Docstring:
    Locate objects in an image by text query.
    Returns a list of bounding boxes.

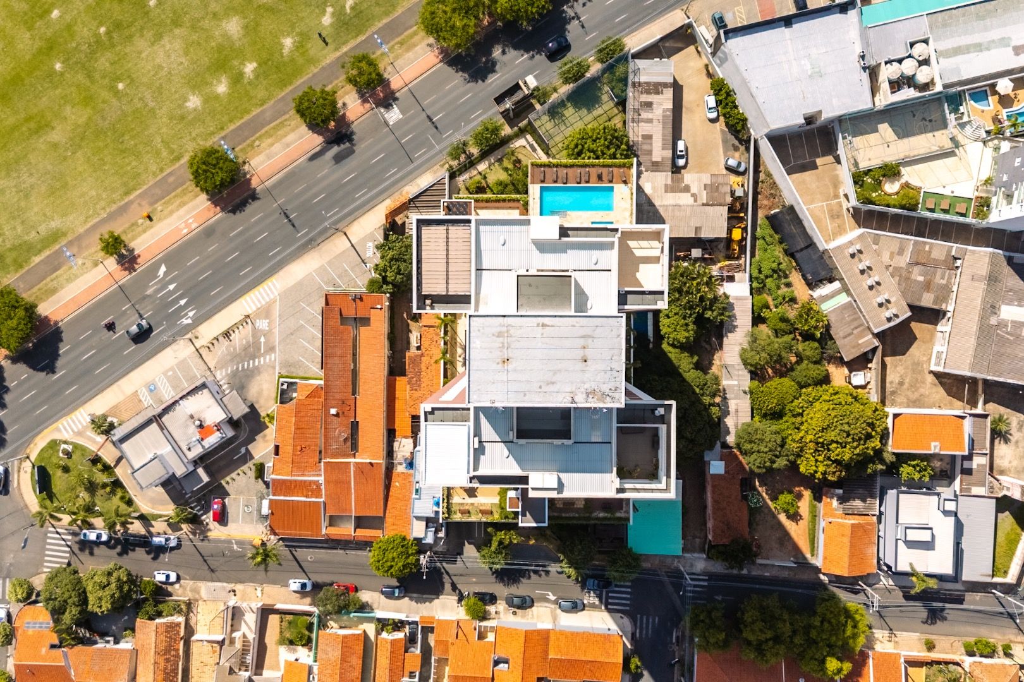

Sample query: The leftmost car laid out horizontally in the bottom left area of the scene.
[81,529,110,541]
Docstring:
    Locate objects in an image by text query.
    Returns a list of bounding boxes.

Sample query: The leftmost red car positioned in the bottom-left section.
[211,498,225,523]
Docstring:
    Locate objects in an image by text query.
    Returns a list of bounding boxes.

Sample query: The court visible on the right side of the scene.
[840,95,956,172]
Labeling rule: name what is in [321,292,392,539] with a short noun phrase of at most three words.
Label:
building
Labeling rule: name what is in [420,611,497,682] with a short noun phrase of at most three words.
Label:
house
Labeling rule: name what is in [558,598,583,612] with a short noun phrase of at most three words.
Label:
car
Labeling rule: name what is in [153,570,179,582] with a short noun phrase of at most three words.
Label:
vehicle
